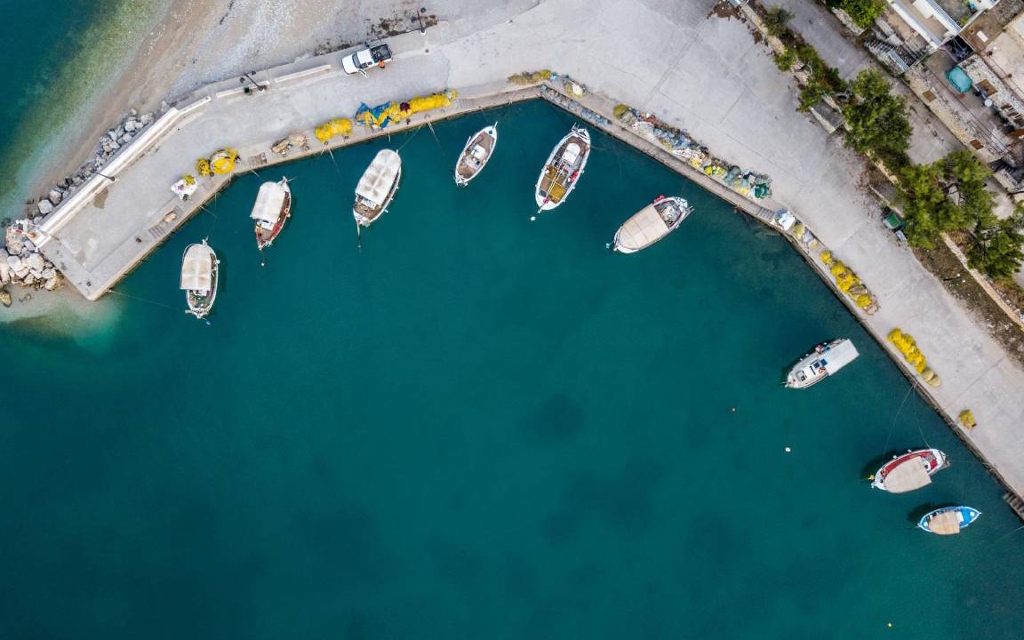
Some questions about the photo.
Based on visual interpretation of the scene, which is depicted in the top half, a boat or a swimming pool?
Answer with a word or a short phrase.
boat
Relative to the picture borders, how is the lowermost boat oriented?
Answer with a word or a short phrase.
from side to side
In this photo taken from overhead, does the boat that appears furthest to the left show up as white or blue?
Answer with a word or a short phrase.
white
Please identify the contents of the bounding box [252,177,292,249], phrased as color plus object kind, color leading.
white boat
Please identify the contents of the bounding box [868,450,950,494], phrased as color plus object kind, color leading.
white boat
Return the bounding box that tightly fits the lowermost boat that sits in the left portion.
[181,240,223,318]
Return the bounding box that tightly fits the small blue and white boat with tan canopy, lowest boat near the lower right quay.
[907,504,983,535]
